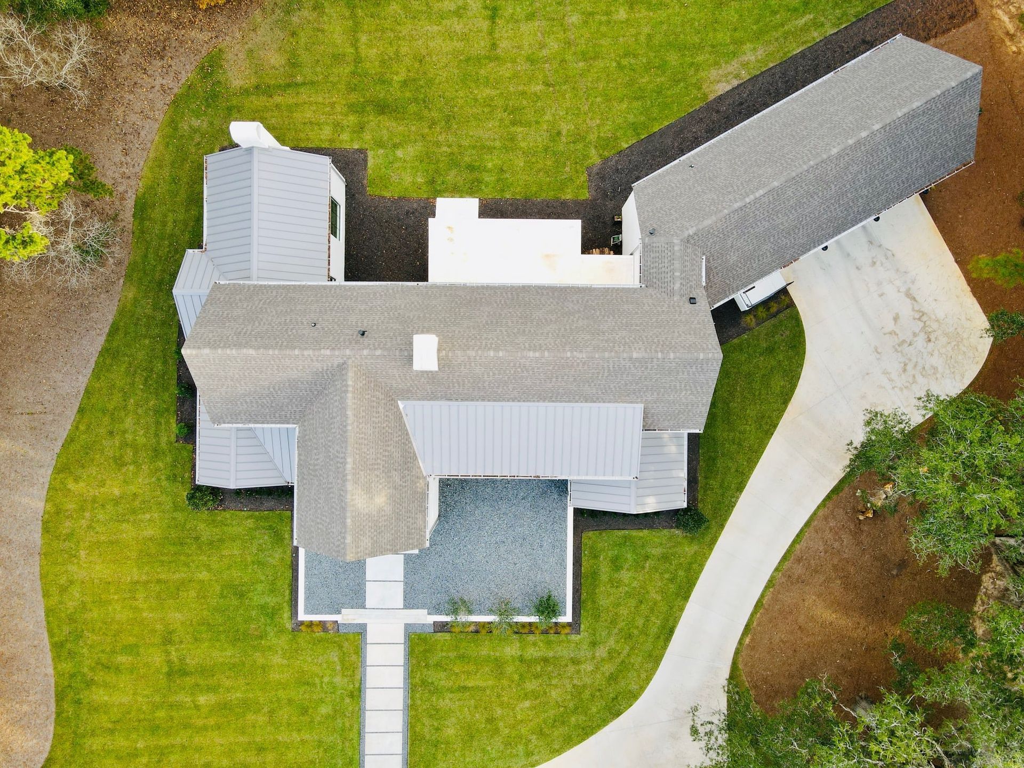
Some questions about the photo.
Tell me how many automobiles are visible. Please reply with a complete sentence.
There are no automobiles in this view.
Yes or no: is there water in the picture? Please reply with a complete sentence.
No, the picture contains no water.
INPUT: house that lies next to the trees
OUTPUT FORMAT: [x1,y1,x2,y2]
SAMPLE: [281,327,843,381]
[173,34,982,561]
